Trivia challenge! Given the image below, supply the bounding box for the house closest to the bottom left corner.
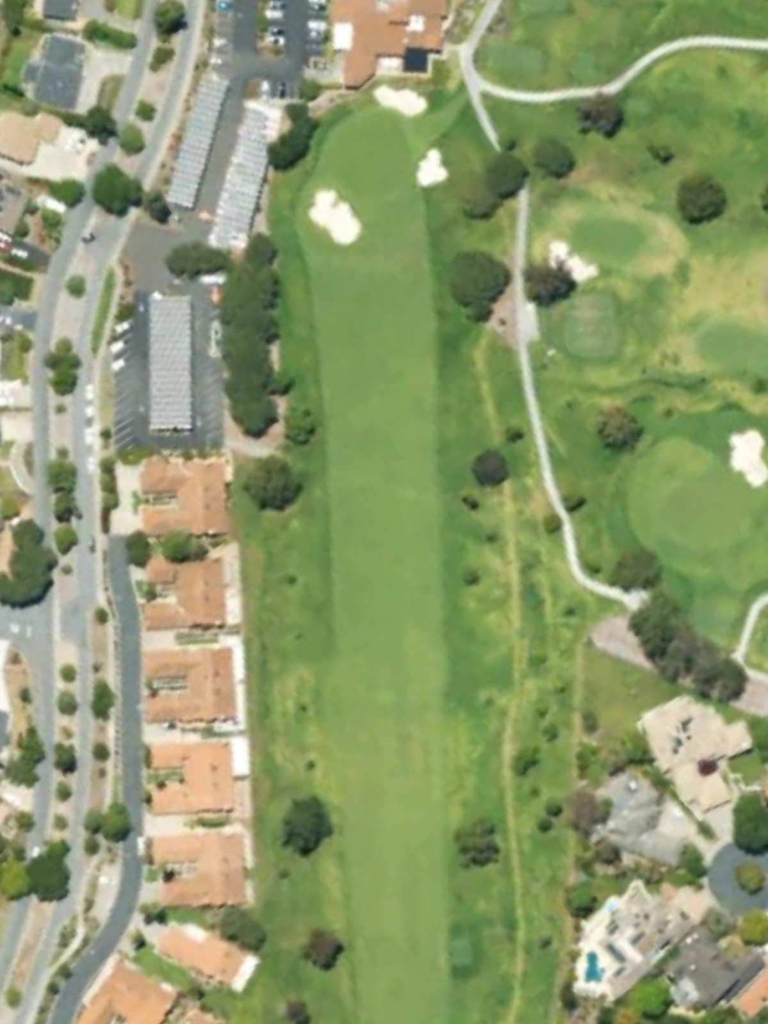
[77,954,177,1024]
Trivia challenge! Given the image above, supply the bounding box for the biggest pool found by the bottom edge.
[584,950,605,982]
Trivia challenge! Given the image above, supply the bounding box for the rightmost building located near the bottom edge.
[735,974,768,1018]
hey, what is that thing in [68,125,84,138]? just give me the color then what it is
white vehicle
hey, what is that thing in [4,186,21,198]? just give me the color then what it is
gray vehicle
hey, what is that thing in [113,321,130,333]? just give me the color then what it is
white vehicle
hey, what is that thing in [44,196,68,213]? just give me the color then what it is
white car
